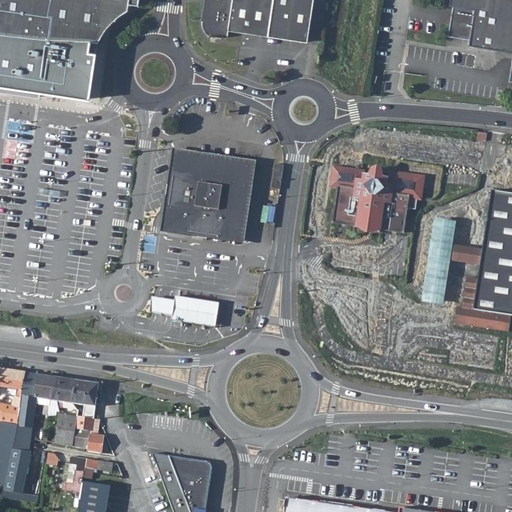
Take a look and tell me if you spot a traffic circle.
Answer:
Yes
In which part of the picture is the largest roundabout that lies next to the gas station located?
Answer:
bottom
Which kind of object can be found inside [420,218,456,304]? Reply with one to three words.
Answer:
greenhouse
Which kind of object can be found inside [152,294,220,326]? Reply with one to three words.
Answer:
gas station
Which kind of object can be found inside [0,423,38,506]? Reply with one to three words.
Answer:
building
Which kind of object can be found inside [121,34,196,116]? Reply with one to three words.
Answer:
roundabout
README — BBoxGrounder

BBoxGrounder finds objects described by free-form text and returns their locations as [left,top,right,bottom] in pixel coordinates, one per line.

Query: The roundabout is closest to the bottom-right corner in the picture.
[211,338,317,444]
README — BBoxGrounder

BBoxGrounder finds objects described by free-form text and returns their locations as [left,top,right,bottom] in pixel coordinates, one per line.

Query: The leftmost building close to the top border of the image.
[0,0,138,102]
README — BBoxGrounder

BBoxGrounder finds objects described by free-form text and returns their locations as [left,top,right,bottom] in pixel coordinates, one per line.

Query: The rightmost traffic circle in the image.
[272,80,337,143]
